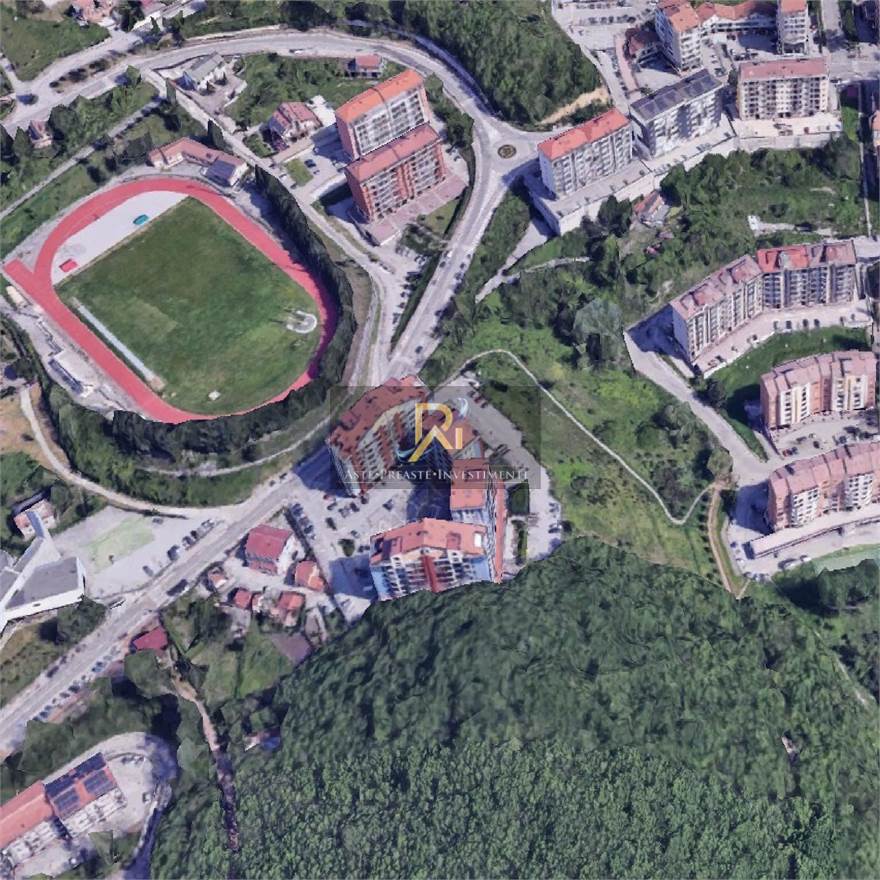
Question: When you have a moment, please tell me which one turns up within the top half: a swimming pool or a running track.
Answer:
running track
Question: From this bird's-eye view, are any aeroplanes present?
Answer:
No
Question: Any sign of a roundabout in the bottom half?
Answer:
No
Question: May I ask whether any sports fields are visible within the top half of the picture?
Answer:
Yes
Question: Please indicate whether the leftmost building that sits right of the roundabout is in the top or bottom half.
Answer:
top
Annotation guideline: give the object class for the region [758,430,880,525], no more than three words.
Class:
building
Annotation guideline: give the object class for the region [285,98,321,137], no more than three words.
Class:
house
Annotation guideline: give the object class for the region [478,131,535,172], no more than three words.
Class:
roundabout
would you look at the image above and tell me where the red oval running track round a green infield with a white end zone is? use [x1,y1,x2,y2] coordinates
[3,179,334,433]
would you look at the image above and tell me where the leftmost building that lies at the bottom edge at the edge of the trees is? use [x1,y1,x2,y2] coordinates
[0,765,64,878]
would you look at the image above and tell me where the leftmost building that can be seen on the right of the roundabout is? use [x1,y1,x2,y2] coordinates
[538,107,634,198]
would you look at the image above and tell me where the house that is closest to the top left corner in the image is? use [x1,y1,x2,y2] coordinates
[74,2,119,28]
